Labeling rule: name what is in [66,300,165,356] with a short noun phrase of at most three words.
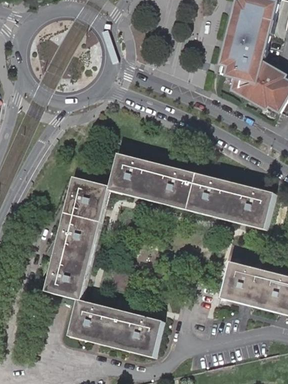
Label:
building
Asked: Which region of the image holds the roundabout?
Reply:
top left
